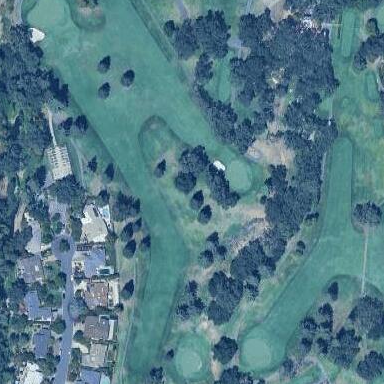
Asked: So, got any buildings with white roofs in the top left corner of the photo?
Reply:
No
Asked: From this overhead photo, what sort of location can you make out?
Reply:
golf course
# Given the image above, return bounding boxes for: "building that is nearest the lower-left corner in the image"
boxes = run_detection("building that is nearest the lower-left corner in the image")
[17,361,41,384]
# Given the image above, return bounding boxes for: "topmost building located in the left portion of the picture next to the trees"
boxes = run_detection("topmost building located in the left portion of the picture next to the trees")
[82,204,107,240]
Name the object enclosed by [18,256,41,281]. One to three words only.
house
